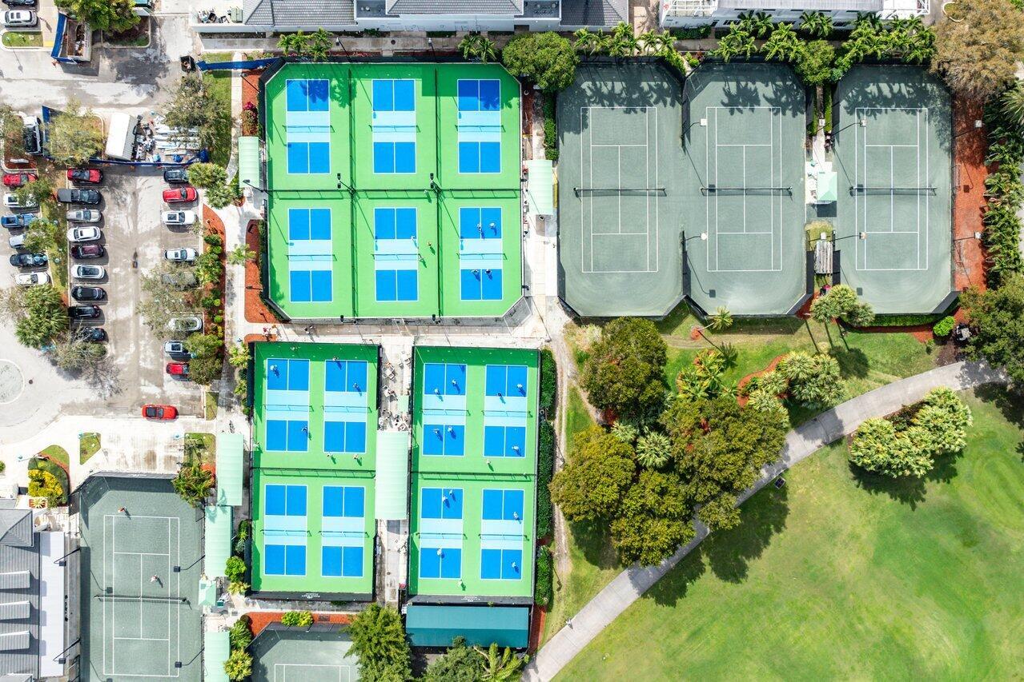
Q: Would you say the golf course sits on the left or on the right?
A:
right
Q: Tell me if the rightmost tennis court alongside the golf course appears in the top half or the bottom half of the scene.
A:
top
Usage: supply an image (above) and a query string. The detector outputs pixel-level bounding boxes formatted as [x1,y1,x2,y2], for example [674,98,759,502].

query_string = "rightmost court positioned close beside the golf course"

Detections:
[834,65,951,313]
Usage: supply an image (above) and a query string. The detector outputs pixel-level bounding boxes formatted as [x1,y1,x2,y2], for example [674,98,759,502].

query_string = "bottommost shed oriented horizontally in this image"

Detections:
[406,602,529,649]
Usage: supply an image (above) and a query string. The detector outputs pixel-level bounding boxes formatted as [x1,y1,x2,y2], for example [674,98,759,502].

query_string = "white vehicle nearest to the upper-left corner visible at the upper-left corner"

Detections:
[1,9,37,26]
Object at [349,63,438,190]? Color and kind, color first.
green sports court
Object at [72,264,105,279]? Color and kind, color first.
white car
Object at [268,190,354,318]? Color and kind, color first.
green sports court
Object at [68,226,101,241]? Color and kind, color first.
white car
